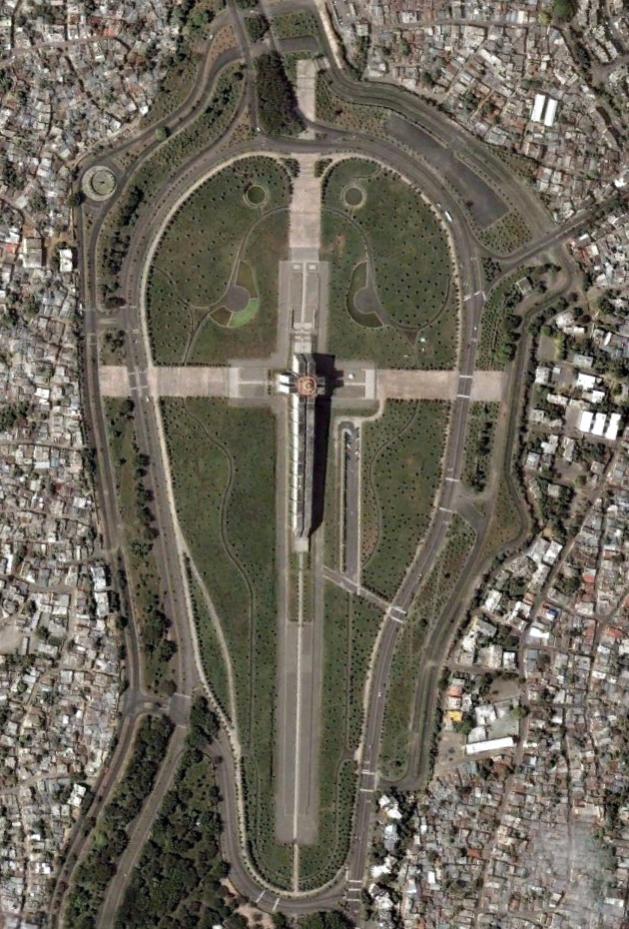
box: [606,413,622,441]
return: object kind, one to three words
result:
building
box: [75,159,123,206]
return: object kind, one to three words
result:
roundabout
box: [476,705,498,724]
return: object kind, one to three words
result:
house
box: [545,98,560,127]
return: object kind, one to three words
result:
shed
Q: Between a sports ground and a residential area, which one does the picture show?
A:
residential area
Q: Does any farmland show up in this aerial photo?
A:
No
